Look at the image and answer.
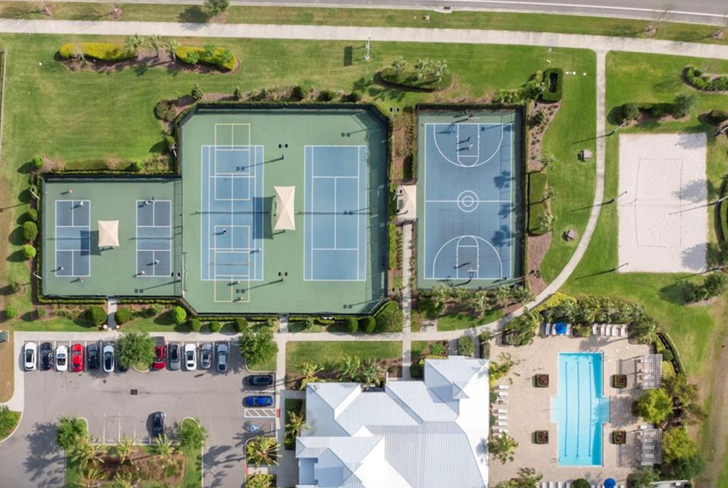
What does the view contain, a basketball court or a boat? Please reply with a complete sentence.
I can see a basketball court in this picture.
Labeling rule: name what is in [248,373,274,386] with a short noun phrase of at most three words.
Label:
vehicle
